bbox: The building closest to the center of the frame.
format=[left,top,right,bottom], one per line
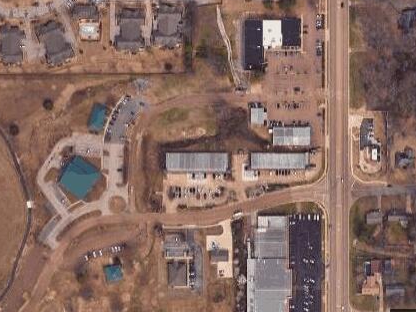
[167,153,229,171]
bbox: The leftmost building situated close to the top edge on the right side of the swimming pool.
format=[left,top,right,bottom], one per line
[115,6,145,53]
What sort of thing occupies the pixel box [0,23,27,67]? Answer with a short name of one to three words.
building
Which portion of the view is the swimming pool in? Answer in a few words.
top left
